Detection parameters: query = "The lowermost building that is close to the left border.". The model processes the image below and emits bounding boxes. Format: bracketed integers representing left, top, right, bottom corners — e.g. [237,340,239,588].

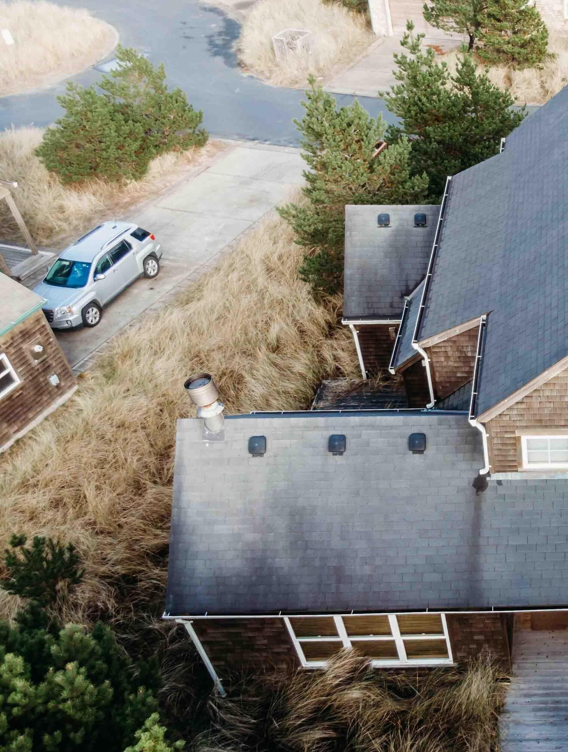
[0,267,78,454]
